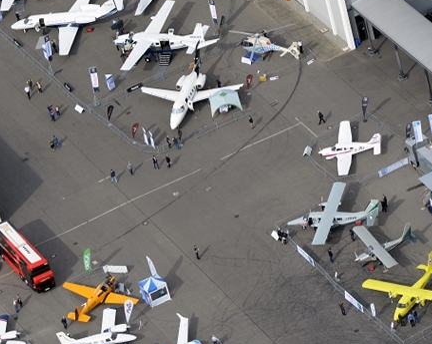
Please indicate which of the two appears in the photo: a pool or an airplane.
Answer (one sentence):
The one in the frame is an airplane.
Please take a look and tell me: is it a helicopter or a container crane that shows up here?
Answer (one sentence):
The one in the frame is a helicopter.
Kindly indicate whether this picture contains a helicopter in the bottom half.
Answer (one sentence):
No, I see no helicopter in the bottom half.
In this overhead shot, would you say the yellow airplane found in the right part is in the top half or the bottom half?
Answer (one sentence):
The yellow airplane found in the right part sits in the bottom half of the picture.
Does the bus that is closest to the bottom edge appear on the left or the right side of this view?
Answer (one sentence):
It is on the left.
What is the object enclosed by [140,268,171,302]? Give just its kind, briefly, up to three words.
tent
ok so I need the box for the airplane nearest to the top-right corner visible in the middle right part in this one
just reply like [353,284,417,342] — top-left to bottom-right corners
[318,122,380,174]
